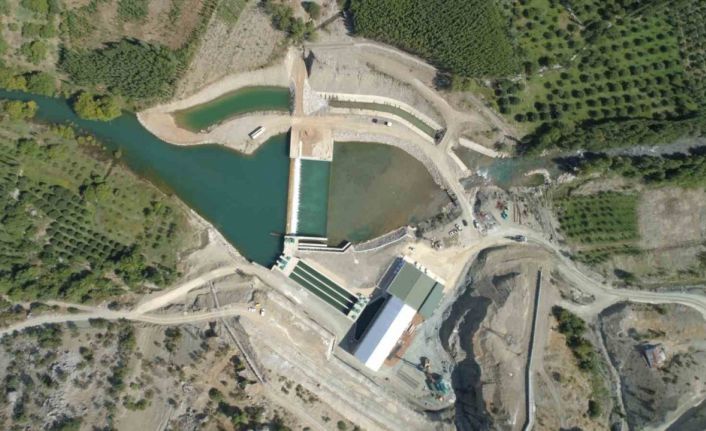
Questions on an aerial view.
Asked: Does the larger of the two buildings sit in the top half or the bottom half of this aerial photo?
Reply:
bottom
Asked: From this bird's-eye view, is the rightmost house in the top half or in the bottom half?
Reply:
bottom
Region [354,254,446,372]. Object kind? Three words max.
building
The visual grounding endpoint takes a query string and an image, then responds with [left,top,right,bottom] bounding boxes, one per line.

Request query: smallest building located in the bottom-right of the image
[645,343,665,368]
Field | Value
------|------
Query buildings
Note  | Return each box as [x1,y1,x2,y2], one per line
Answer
[354,254,446,372]
[645,343,665,368]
